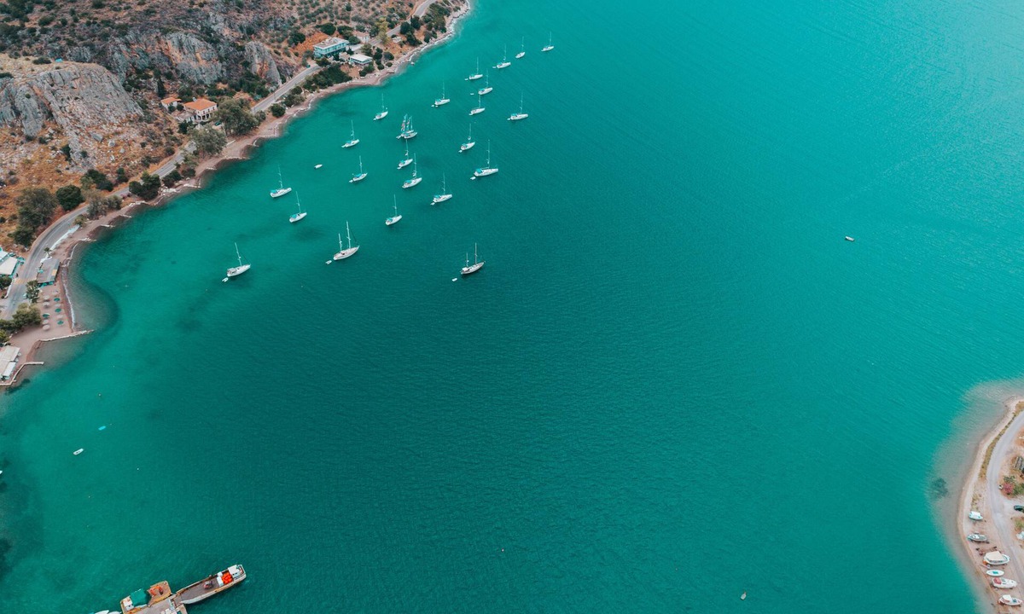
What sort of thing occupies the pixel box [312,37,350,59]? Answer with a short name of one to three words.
building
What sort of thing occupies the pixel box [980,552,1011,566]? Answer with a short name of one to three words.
boat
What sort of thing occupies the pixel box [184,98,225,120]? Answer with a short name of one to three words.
house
